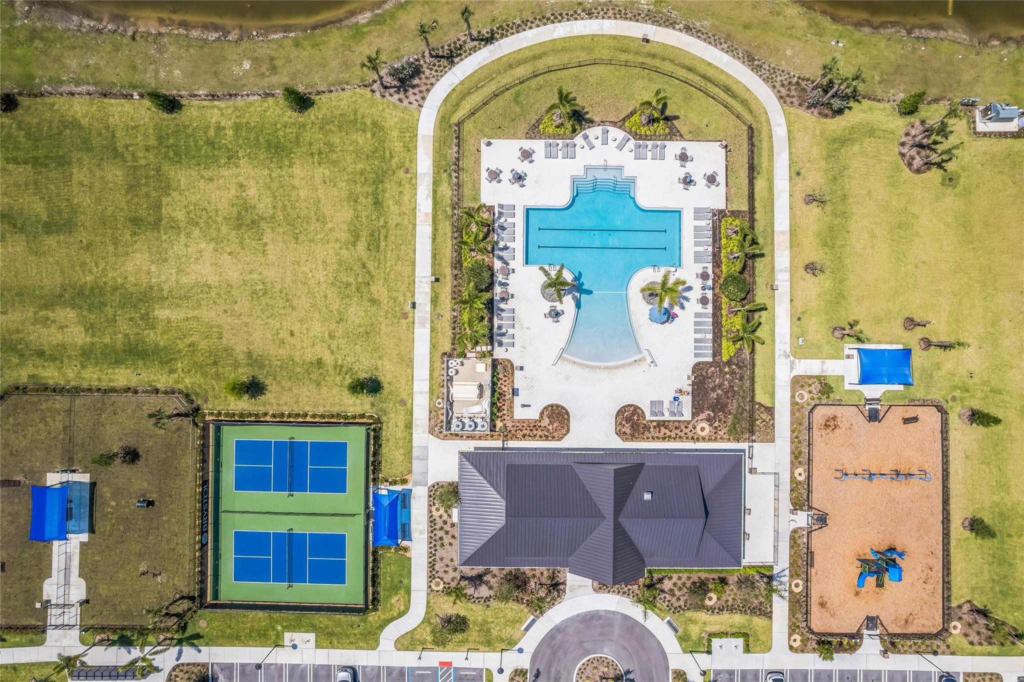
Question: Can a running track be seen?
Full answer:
No, I can see no running track in this picture.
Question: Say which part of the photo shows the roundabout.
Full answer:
Look in the bottom portion of the view to spot the roundabout.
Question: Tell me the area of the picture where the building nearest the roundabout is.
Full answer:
The building nearest the roundabout sits in the bottom section of the image.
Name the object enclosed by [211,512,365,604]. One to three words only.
sports court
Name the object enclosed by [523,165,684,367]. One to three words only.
swimming pool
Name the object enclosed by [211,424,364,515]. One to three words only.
sports court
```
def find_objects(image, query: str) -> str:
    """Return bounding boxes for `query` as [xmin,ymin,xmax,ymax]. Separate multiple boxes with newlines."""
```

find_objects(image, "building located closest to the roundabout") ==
[457,450,746,591]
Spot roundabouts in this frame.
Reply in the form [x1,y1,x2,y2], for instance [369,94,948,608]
[530,610,669,682]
